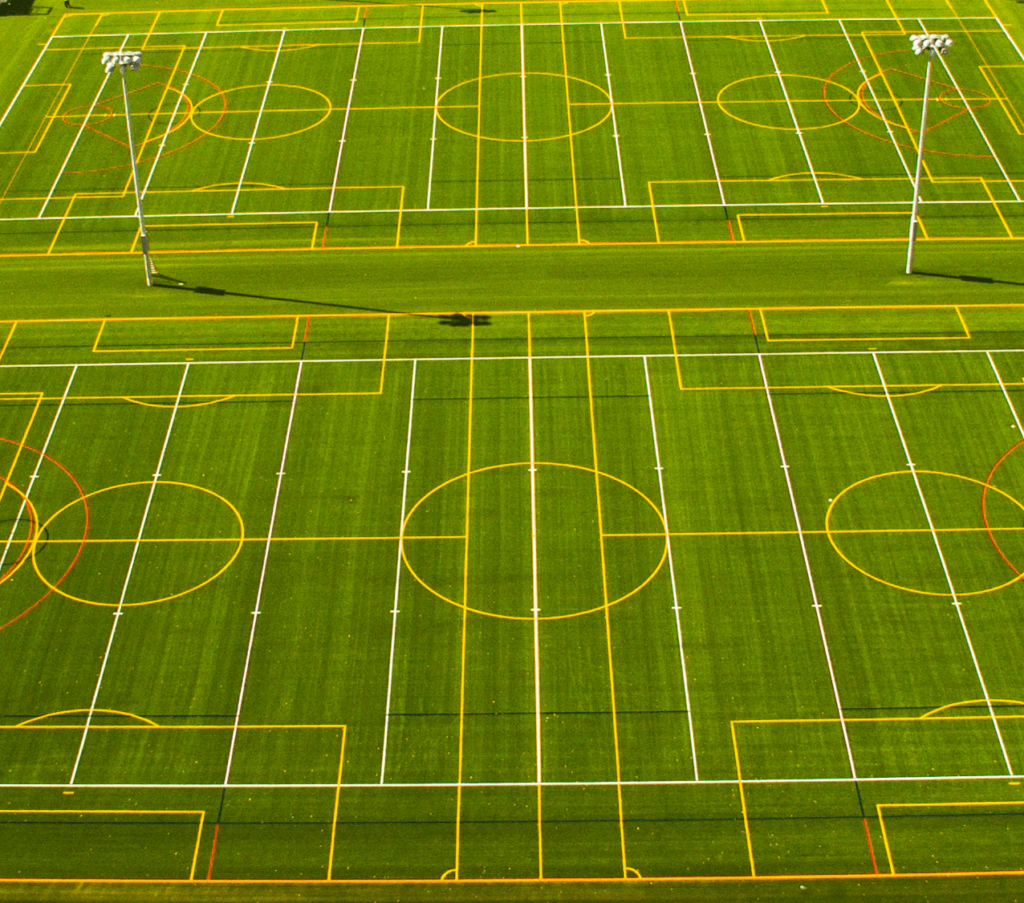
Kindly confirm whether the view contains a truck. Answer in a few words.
No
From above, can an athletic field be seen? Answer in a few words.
Yes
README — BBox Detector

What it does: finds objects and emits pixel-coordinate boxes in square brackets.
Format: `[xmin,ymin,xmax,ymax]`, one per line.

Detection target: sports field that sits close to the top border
[0,0,1024,257]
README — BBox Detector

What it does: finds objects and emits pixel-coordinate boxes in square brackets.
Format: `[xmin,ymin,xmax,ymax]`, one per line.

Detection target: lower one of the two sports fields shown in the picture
[0,304,1024,883]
